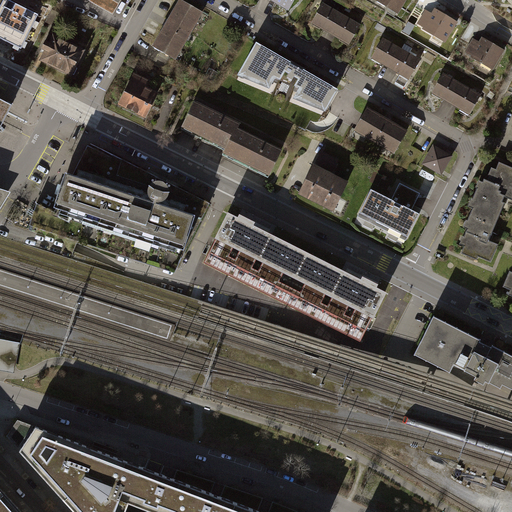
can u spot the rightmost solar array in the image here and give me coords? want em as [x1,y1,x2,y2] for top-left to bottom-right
[362,192,416,234]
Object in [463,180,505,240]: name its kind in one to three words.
building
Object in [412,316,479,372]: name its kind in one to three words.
building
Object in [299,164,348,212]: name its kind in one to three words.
house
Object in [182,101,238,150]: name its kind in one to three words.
house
